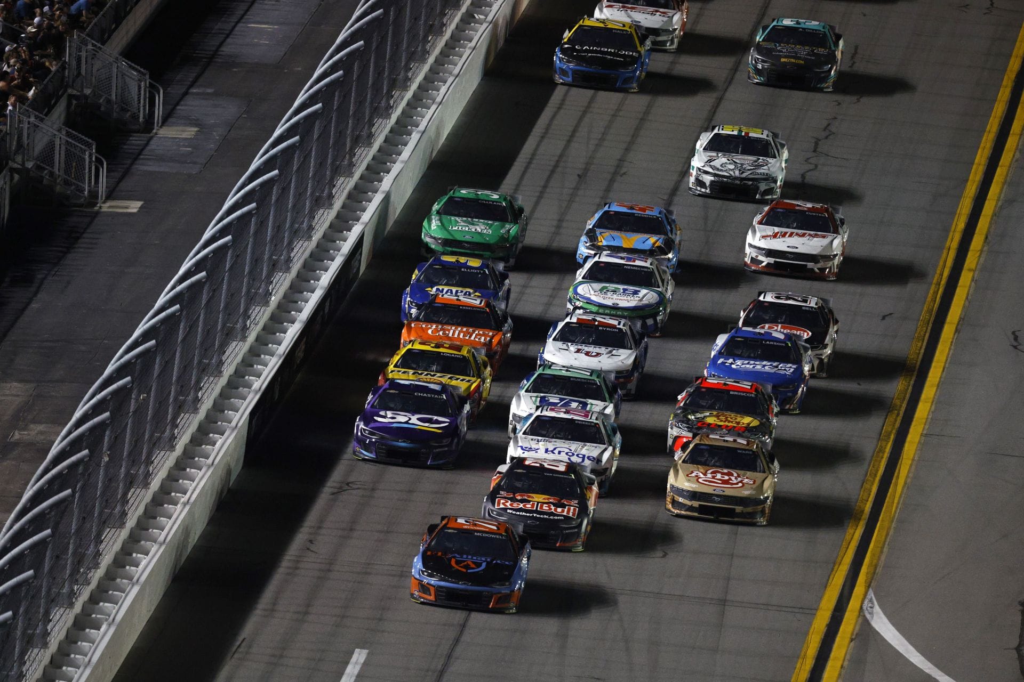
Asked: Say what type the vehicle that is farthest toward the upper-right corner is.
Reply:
automobile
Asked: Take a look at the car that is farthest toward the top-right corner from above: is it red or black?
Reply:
black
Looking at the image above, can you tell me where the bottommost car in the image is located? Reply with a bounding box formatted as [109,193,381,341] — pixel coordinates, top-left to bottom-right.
[412,516,531,614]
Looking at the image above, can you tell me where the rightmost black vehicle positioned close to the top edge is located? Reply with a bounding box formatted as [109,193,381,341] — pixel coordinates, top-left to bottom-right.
[749,18,844,91]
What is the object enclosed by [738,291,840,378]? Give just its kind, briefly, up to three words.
car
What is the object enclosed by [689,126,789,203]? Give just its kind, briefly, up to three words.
car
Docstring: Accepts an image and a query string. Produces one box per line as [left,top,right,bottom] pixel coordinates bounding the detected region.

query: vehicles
[576,201,682,281]
[482,458,600,553]
[402,257,512,330]
[508,363,622,443]
[664,432,779,526]
[749,18,844,91]
[705,329,813,414]
[353,379,471,471]
[507,405,622,498]
[538,315,647,400]
[594,0,688,50]
[553,17,651,92]
[412,516,531,614]
[667,376,779,456]
[566,252,673,337]
[689,126,789,203]
[420,187,527,270]
[381,338,492,428]
[738,291,840,378]
[745,201,847,280]
[402,296,513,380]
